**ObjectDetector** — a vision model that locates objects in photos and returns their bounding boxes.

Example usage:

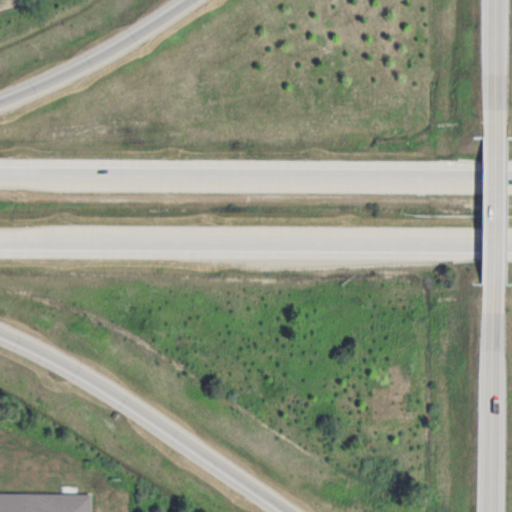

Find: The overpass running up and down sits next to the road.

[473,136,512,286]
